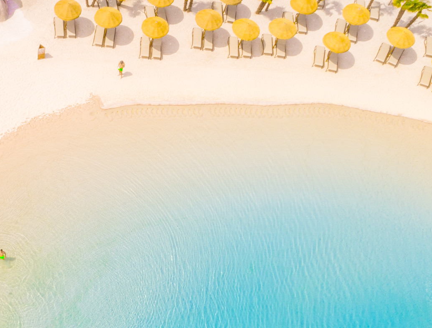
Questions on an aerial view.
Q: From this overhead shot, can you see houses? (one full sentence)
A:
No, the photo shows no house.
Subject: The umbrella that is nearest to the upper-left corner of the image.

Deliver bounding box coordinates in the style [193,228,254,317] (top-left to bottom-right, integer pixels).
[53,1,81,30]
